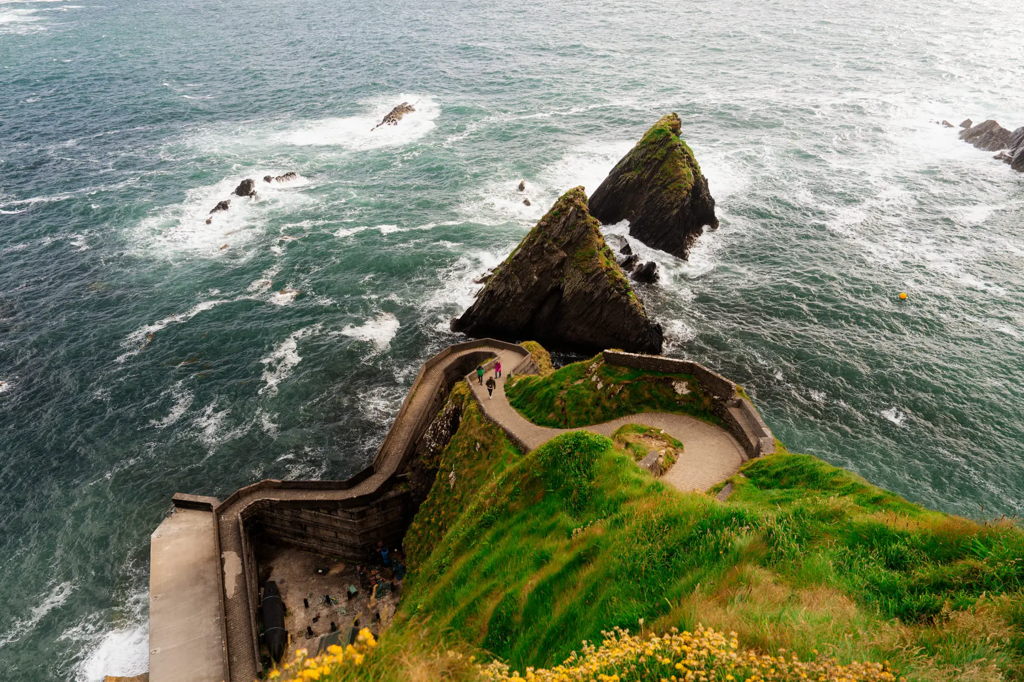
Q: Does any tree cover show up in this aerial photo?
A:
No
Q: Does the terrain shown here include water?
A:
Yes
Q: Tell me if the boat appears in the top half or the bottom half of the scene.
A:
bottom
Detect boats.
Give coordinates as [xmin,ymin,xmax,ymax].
[266,584,289,664]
